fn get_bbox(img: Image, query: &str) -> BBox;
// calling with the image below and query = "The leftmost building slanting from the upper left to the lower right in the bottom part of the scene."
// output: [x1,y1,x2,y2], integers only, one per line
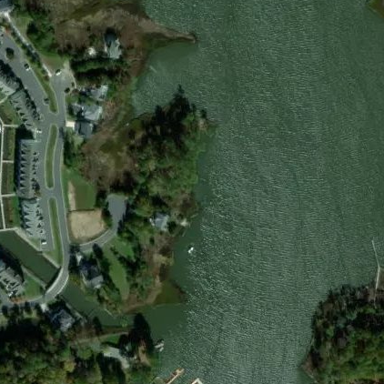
[0,256,29,297]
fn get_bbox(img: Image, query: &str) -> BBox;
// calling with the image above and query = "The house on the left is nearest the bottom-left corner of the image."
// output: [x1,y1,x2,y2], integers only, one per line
[49,303,76,332]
